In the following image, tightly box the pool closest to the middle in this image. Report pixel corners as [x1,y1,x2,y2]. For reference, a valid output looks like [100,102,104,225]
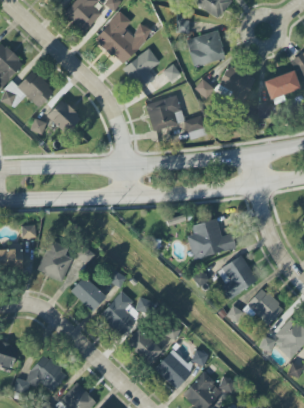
[172,239,188,262]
